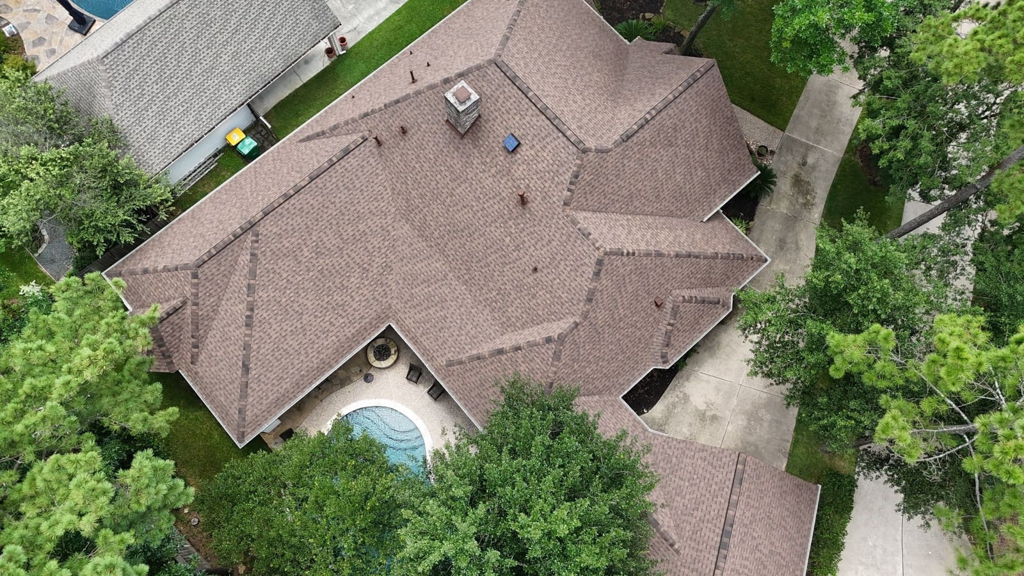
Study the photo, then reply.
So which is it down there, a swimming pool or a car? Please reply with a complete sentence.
I can see a swimming pool in this picture.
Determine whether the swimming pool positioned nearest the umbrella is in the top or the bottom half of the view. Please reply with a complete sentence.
You can find the swimming pool positioned nearest the umbrella in the top half.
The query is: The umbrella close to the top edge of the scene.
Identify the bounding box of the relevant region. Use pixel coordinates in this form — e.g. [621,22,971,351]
[57,0,94,34]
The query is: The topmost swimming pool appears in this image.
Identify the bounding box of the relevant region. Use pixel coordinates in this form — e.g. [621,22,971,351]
[70,0,133,21]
